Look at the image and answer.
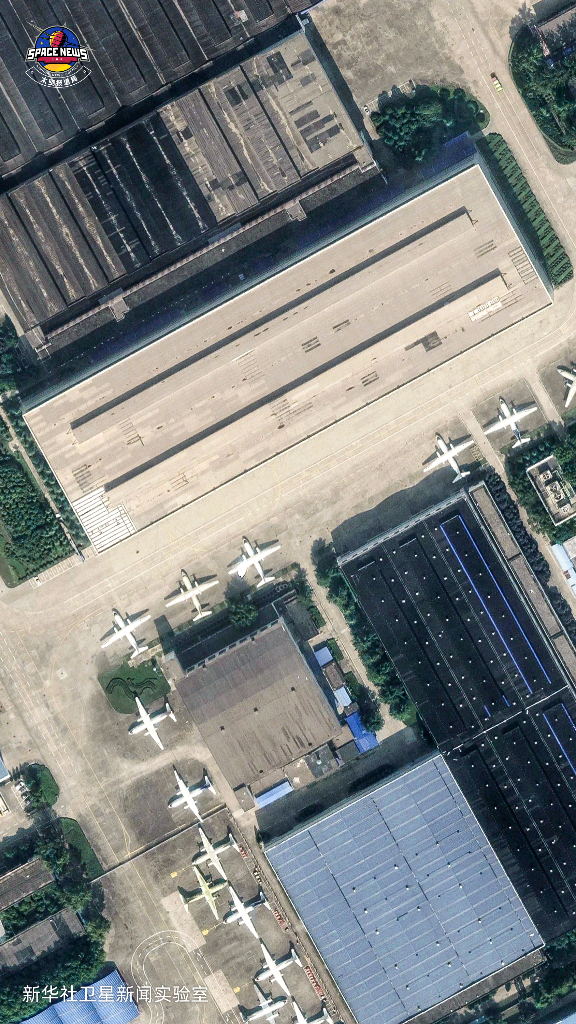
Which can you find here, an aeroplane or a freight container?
aeroplane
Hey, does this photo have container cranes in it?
No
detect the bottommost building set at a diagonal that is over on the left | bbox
[0,904,83,977]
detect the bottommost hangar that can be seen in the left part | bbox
[14,966,150,1024]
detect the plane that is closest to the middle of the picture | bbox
[226,538,279,584]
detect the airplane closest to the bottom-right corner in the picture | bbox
[289,1001,331,1024]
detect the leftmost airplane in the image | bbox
[100,610,150,654]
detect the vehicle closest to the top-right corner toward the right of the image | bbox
[490,72,504,92]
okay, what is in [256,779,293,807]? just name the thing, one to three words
shed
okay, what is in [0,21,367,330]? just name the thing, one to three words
building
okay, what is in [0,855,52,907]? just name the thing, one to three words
house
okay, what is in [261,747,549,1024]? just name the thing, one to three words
hangar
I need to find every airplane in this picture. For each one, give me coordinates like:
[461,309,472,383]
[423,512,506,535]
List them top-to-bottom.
[558,366,576,403]
[483,398,536,444]
[422,434,473,479]
[226,538,279,584]
[164,571,218,617]
[100,610,150,654]
[130,699,176,748]
[169,772,214,822]
[193,829,238,878]
[181,865,228,917]
[224,888,269,937]
[255,946,301,996]
[241,982,287,1024]
[289,1001,331,1024]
